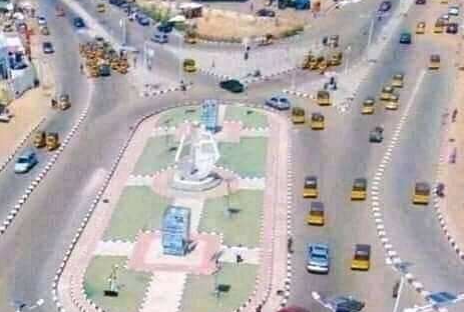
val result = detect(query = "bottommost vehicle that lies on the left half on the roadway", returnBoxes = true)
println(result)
[11,150,39,175]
